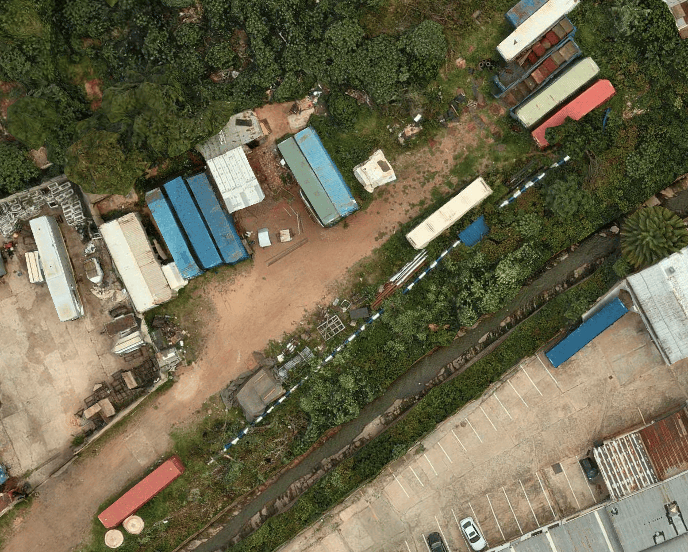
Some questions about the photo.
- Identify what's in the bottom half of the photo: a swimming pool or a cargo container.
cargo container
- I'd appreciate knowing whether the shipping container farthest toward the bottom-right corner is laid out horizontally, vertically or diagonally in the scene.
diagonally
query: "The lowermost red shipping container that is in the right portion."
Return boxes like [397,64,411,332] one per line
[533,79,616,149]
